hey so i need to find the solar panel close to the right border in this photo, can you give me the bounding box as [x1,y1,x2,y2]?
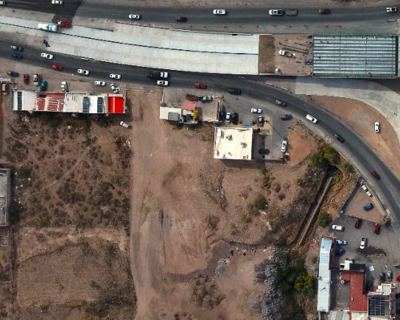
[369,297,384,317]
